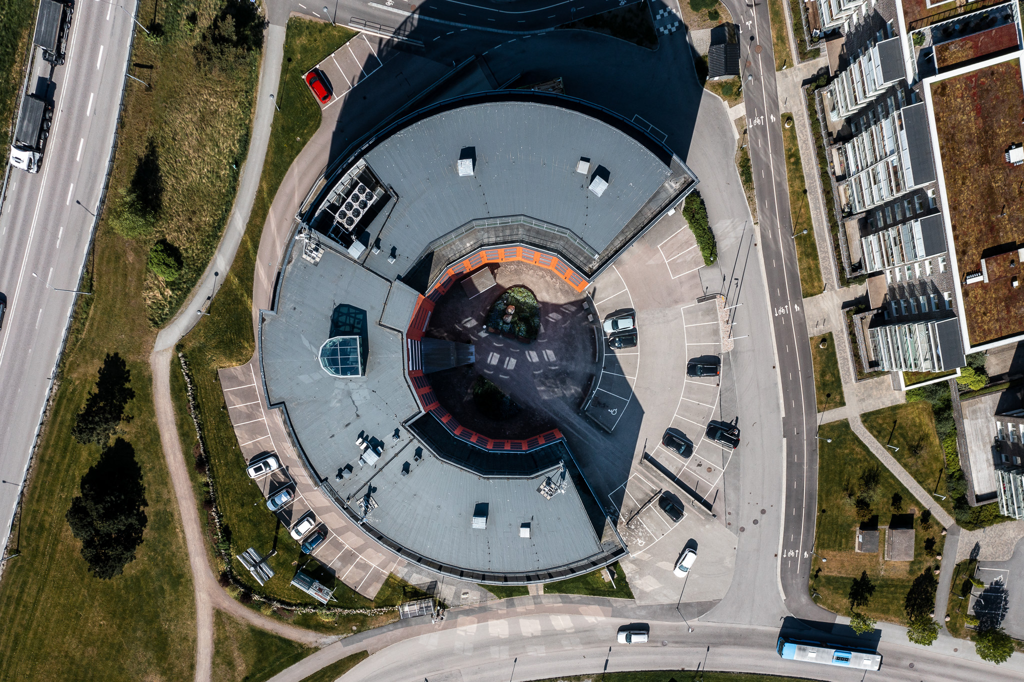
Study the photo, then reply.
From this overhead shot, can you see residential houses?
Yes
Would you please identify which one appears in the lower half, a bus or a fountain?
bus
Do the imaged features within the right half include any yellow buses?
No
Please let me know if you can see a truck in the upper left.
Yes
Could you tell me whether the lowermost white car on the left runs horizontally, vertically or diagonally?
diagonally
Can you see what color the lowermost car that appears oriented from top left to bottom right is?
black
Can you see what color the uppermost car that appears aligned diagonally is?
red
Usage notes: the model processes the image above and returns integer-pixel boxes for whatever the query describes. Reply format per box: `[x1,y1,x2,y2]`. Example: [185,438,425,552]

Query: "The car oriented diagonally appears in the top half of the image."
[306,72,330,104]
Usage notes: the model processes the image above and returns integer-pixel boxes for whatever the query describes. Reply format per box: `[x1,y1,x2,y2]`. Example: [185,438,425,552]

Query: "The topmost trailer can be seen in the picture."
[33,0,73,78]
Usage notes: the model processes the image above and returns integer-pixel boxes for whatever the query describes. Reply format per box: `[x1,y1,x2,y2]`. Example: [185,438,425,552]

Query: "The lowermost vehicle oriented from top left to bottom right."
[658,493,685,523]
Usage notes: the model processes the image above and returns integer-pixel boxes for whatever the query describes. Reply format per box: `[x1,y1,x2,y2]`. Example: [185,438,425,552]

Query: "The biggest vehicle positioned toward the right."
[773,634,882,671]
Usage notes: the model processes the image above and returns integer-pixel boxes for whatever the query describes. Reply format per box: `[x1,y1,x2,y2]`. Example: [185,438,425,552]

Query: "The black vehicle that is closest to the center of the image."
[608,335,638,350]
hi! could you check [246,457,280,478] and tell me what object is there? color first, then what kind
white car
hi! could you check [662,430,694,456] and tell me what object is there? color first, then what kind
black car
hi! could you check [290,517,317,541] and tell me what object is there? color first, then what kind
white car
